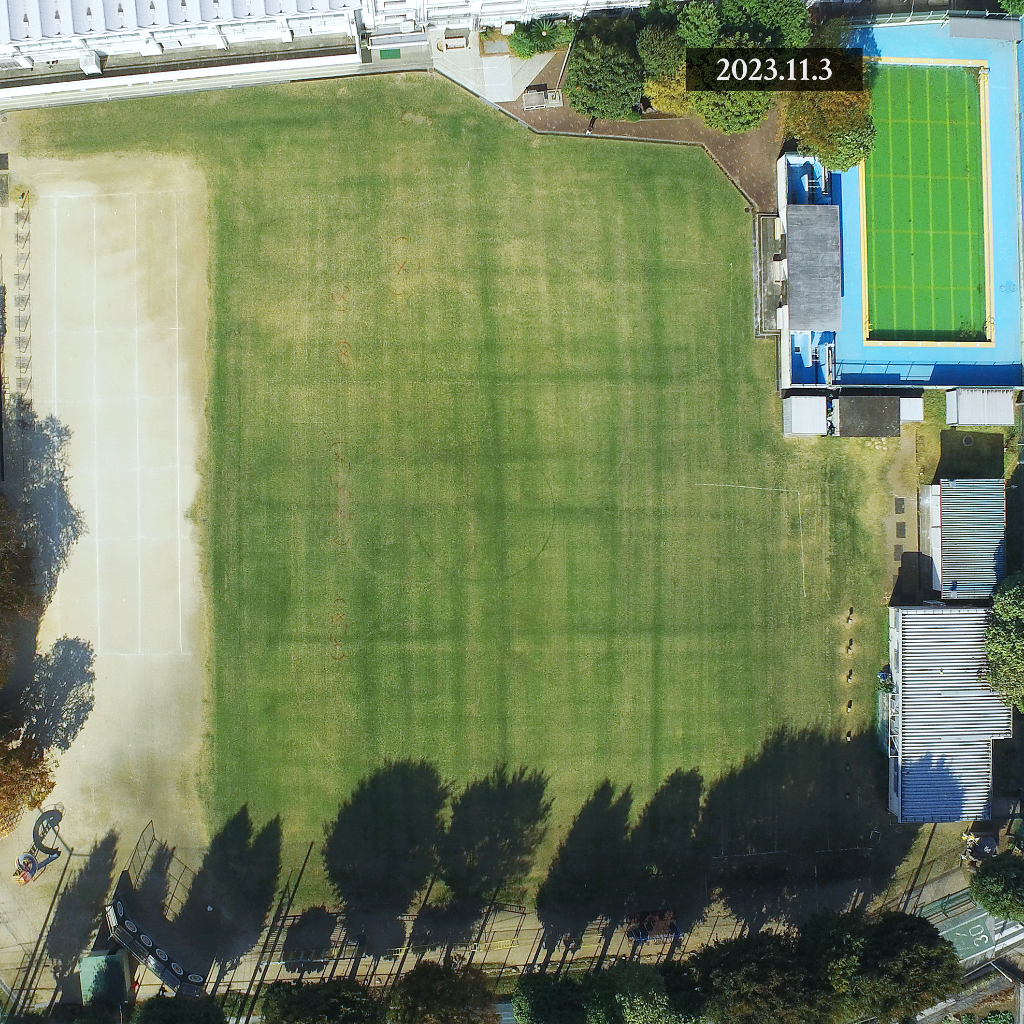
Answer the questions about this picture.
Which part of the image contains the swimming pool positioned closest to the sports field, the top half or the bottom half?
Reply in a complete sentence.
You can find the swimming pool positioned closest to the sports field in the top half.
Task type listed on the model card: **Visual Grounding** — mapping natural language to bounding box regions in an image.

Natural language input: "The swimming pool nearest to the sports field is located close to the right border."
[782,18,1024,389]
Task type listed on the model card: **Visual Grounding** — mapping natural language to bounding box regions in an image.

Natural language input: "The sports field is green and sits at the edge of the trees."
[19,72,915,930]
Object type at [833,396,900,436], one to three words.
shed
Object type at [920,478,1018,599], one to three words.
building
